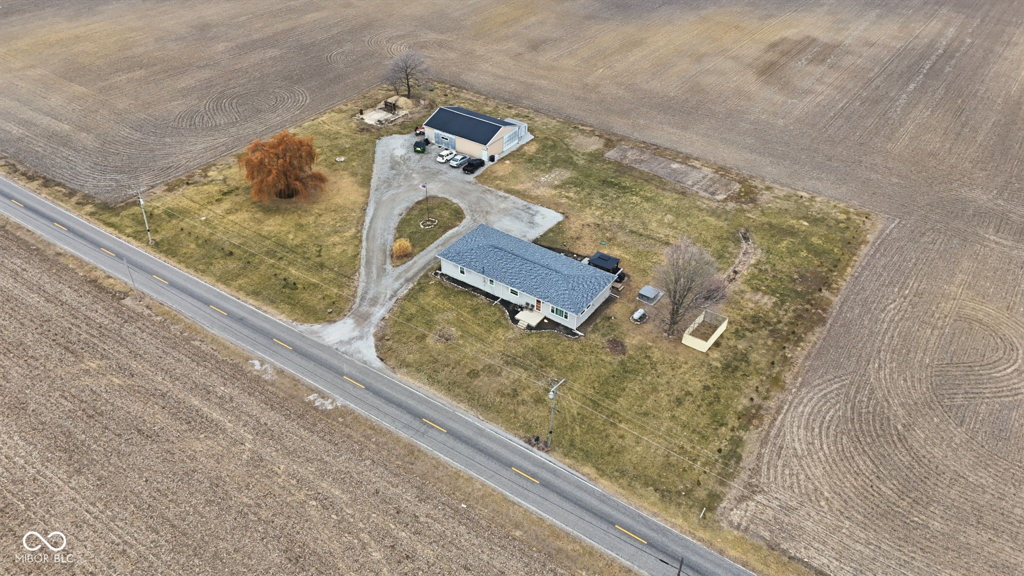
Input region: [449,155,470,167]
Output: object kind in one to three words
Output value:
vehicle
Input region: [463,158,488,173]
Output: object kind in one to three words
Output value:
vehicle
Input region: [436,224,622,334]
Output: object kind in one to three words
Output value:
house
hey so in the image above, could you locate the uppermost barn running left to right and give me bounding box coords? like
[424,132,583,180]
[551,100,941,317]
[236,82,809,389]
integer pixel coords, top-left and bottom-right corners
[423,106,520,161]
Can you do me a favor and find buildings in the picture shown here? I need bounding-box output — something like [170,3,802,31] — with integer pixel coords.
[636,286,663,306]
[423,106,520,161]
[436,224,622,334]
